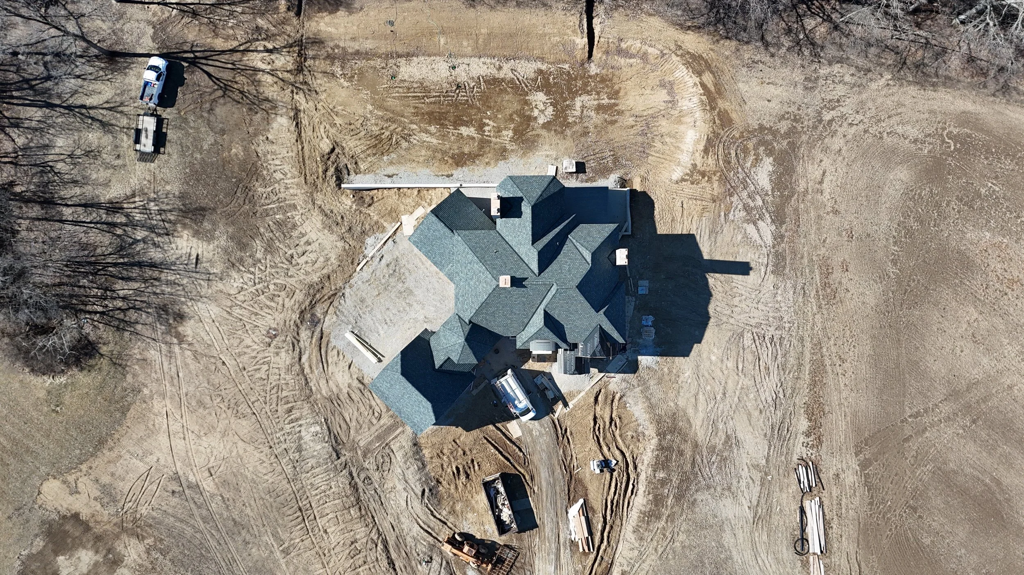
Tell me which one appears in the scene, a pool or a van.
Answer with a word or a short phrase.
van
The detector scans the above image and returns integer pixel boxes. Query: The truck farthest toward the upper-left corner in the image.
[139,57,168,108]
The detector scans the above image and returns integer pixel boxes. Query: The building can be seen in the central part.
[370,175,628,435]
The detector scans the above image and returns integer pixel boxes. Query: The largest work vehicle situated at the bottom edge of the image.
[443,532,490,573]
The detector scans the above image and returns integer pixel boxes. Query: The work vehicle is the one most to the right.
[591,458,615,475]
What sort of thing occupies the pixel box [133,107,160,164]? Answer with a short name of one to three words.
trailer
